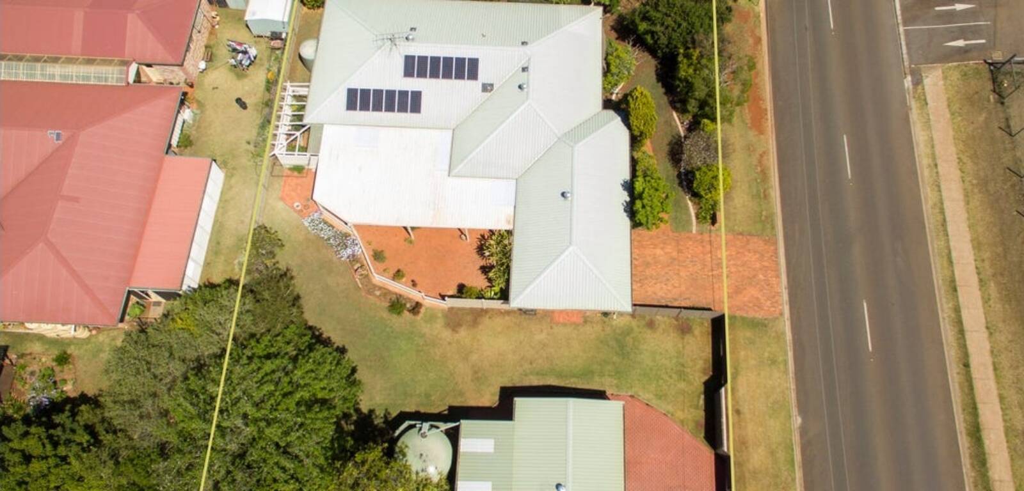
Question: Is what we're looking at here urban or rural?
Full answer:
The area is urban.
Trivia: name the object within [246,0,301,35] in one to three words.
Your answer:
shed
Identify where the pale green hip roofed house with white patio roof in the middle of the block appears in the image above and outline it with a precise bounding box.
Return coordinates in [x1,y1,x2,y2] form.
[304,0,633,314]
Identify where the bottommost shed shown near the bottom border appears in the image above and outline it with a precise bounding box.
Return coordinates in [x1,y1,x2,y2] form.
[454,397,627,491]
